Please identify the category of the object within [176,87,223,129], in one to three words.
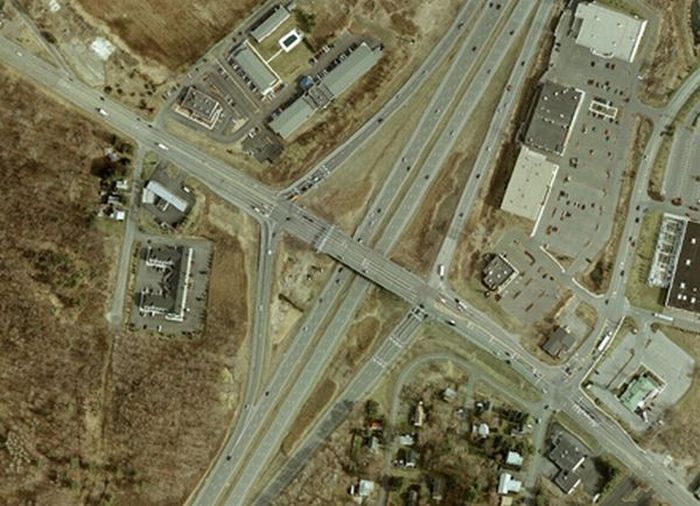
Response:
building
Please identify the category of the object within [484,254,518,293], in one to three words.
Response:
building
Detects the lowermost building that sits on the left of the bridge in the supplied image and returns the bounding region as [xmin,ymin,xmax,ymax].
[139,247,193,320]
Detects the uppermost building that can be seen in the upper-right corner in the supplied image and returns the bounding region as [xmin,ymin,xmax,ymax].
[574,1,644,63]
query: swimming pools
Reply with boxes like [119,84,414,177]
[279,29,303,52]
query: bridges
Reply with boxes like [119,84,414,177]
[302,220,428,297]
